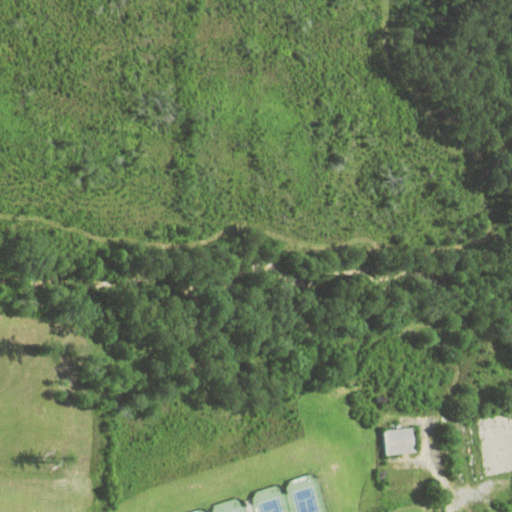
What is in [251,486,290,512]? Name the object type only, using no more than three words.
tennis court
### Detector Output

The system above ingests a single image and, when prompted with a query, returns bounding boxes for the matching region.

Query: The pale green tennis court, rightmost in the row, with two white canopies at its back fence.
[284,476,326,512]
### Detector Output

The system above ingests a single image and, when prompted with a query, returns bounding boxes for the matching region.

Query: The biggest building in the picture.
[384,428,416,456]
